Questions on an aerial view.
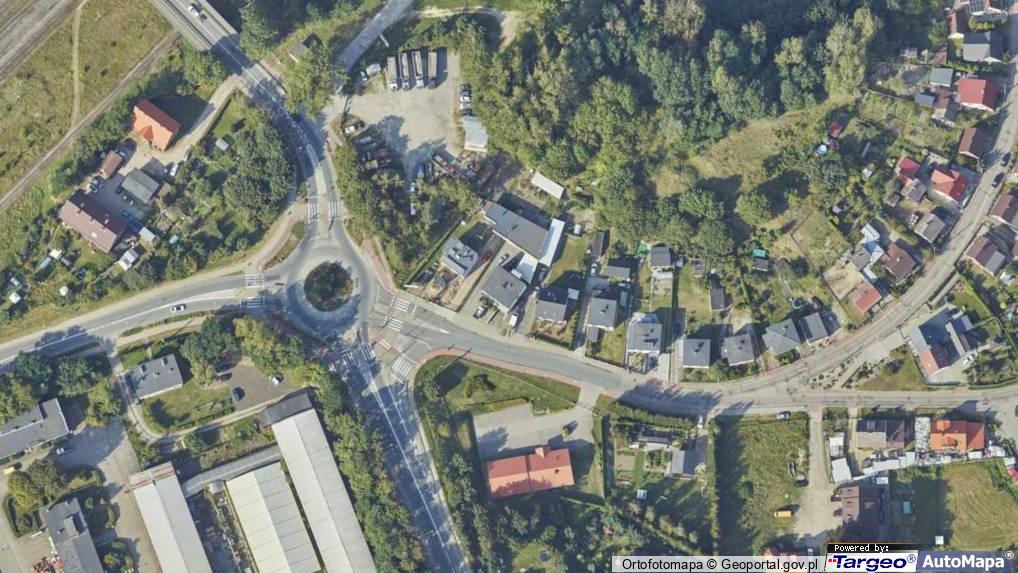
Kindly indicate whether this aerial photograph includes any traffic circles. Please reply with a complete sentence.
Yes, the photo shows a traffic circle.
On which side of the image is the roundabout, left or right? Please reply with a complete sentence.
The roundabout appears in the left half of the scene.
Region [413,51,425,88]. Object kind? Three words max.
vehicle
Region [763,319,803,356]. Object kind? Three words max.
house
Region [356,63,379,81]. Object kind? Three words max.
vehicle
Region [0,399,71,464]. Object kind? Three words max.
building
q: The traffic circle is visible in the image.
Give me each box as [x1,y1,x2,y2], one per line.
[275,233,382,339]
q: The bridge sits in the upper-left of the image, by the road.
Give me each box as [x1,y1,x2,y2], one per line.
[149,0,243,59]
